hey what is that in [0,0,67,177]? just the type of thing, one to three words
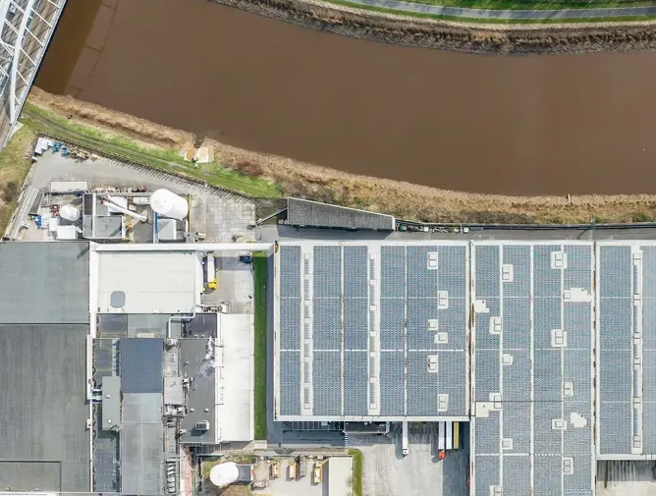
bridge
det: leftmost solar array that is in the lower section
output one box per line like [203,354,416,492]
[280,246,301,413]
